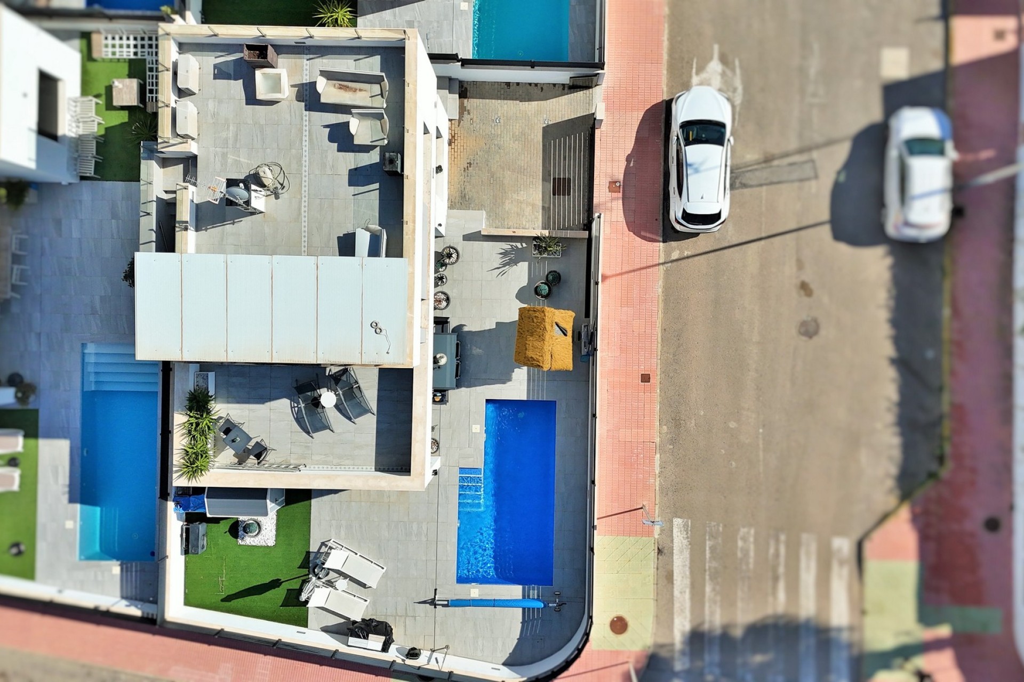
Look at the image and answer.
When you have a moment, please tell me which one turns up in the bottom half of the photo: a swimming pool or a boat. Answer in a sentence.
You can see a swimming pool in the bottom half of the photo.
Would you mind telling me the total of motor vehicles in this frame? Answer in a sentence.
In total, 2 motor vehicles can be seen.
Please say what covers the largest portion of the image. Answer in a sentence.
The largest share of the image is taken up by paved ground.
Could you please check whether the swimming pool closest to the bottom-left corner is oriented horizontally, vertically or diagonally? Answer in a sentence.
The swimming pool closest to the bottom-left corner runs vertically in the image.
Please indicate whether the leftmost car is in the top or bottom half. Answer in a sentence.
The leftmost car is in the top half of the image.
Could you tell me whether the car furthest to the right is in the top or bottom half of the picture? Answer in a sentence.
Seen from above, the car furthest to the right lies in the top half of the view.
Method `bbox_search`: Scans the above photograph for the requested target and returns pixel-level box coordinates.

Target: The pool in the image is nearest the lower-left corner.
[77,342,158,562]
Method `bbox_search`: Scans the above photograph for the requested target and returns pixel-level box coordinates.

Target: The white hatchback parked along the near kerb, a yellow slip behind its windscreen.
[668,86,739,232]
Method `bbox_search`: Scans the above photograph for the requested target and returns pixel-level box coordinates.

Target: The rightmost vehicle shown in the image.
[884,104,962,243]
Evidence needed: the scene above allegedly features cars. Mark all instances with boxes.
[884,104,962,243]
[668,86,739,232]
